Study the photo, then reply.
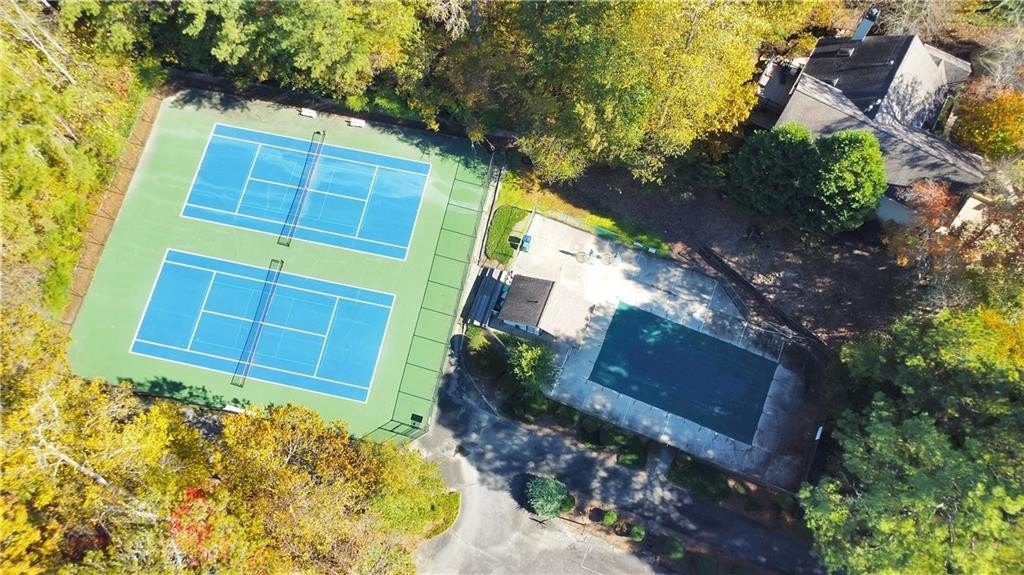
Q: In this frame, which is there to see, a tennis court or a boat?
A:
tennis court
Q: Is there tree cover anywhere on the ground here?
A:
Yes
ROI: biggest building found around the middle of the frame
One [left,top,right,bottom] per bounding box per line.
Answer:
[499,277,591,349]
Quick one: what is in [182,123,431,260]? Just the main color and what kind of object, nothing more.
blue tennis court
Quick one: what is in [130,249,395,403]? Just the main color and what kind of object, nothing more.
blue tennis court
